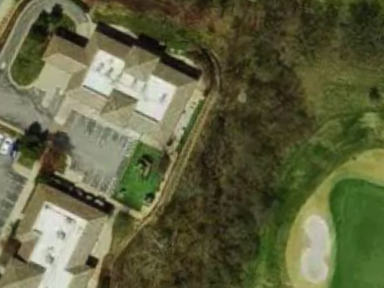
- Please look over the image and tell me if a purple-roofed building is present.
No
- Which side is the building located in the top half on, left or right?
left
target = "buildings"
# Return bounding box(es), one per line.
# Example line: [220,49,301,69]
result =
[0,183,110,288]
[44,28,199,152]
